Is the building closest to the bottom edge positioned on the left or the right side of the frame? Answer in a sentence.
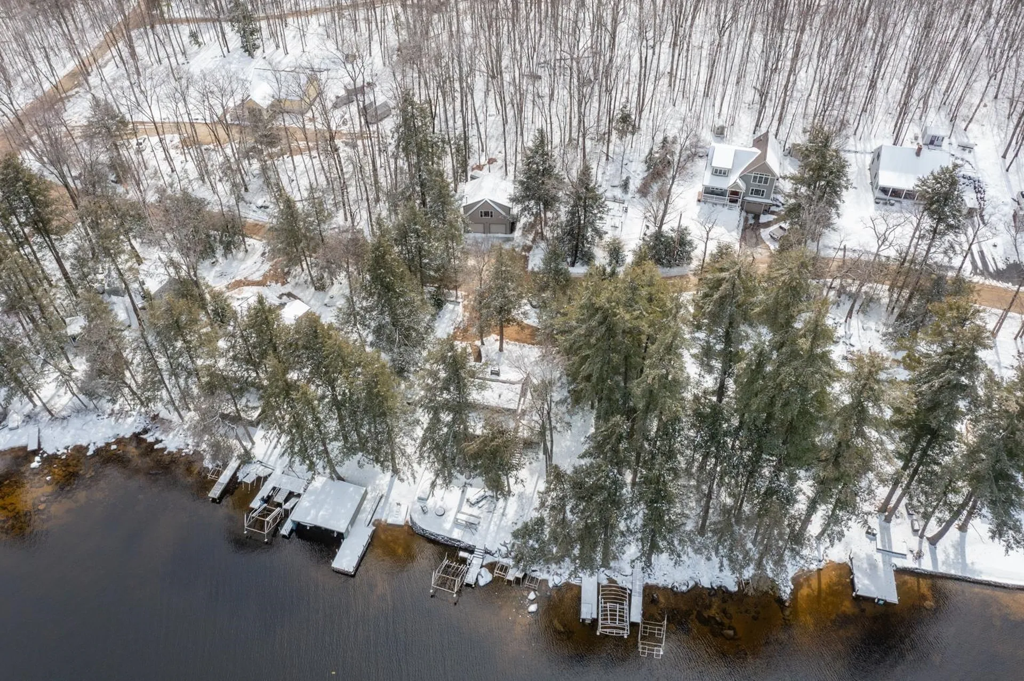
The building closest to the bottom edge sits on the left side.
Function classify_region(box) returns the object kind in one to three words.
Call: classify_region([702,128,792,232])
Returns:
house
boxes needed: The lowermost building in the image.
[292,476,371,540]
